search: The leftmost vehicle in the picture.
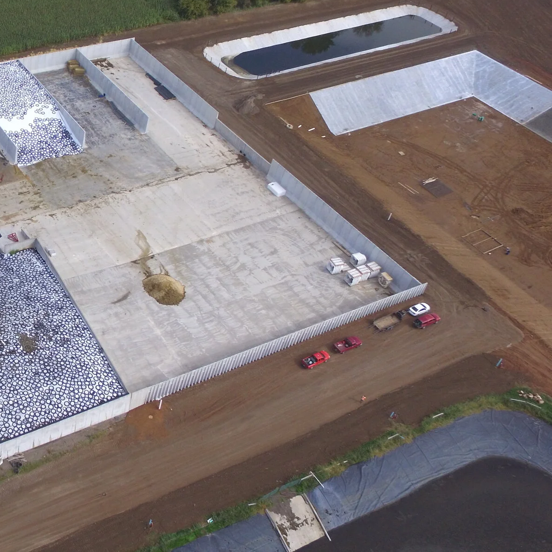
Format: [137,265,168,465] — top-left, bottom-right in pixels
[300,348,334,367]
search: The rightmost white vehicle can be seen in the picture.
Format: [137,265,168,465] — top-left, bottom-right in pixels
[407,300,433,315]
